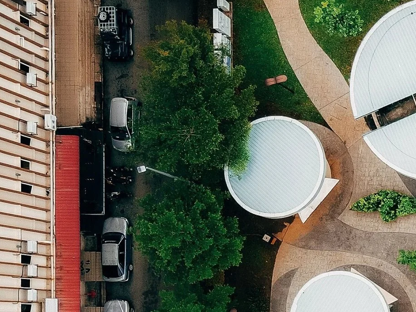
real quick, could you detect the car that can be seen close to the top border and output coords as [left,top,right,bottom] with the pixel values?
[100,1,139,63]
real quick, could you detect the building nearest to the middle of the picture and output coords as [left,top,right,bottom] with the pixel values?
[223,116,340,224]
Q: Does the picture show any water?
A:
No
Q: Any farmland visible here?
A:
No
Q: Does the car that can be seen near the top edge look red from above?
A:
No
